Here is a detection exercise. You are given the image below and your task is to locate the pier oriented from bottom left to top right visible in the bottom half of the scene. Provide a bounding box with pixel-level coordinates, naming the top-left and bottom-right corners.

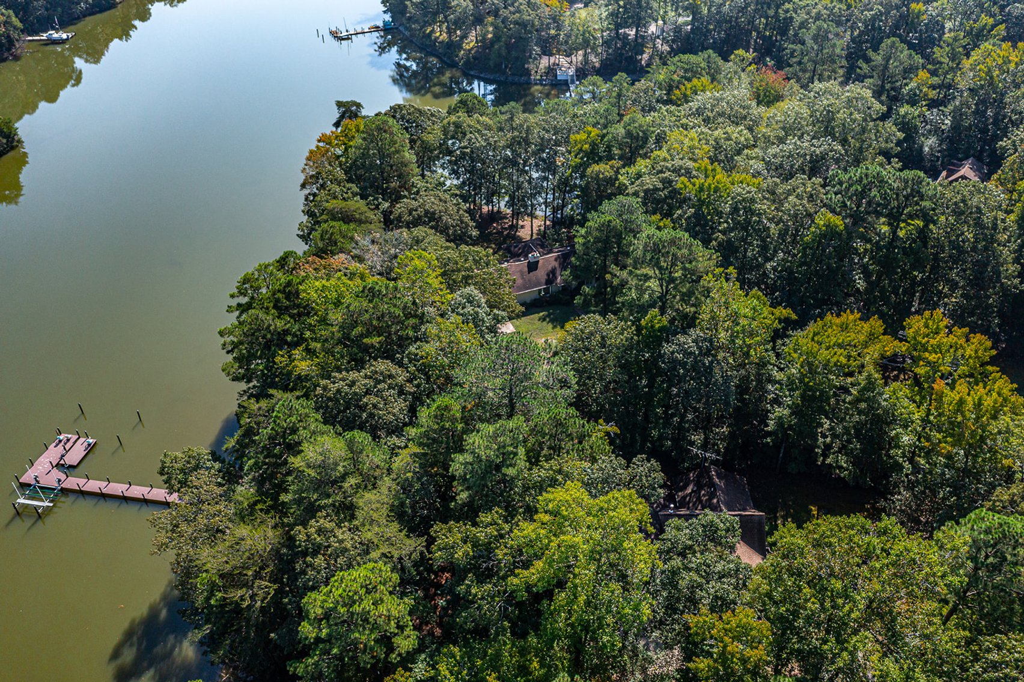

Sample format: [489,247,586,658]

[61,430,97,469]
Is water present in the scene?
Yes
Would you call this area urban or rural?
rural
